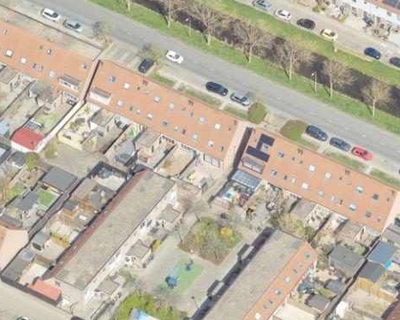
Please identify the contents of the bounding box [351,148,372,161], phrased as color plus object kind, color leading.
red vehicle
